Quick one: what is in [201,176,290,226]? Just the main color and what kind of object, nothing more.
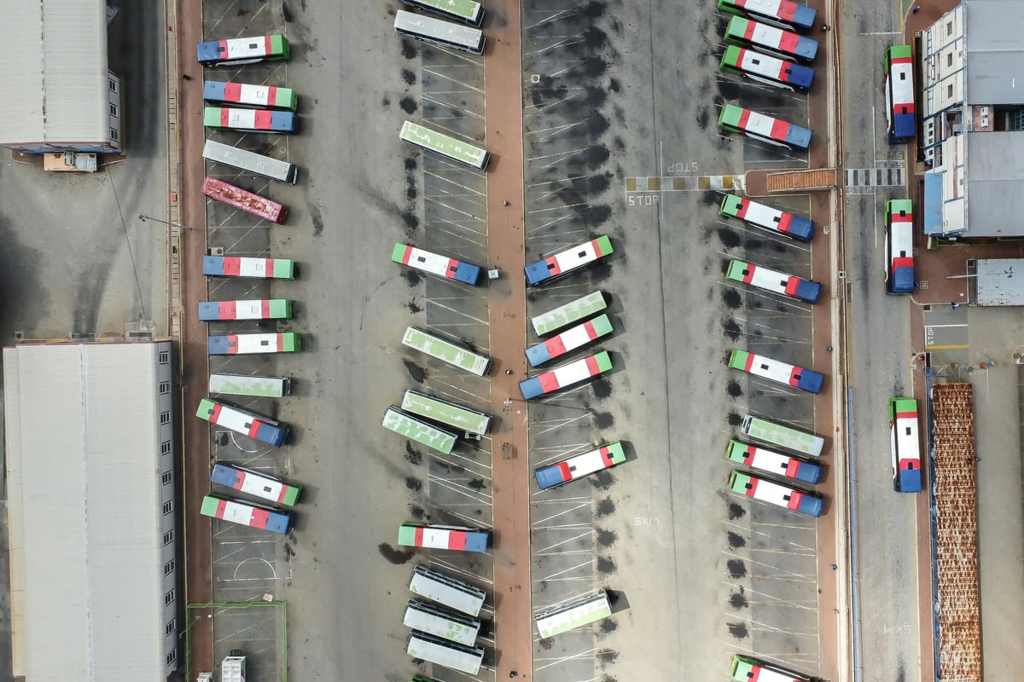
pink bus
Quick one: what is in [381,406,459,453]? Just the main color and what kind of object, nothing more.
white bus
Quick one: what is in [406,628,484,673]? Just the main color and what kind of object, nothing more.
white bus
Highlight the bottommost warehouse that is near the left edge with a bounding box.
[6,344,186,682]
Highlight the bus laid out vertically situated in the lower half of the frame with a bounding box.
[885,395,920,493]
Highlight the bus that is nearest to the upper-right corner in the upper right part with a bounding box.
[880,44,914,144]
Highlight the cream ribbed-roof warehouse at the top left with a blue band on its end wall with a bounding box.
[0,0,127,155]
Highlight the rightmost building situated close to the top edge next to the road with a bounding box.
[923,3,1024,247]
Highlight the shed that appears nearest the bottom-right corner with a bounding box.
[932,382,982,682]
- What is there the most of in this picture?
paved ground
